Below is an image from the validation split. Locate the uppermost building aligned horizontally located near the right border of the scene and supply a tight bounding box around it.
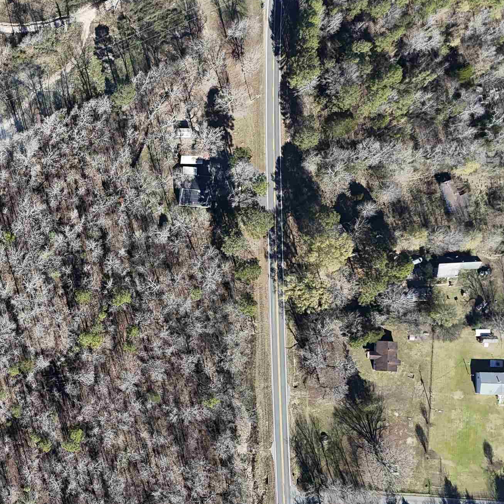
[433,261,483,278]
